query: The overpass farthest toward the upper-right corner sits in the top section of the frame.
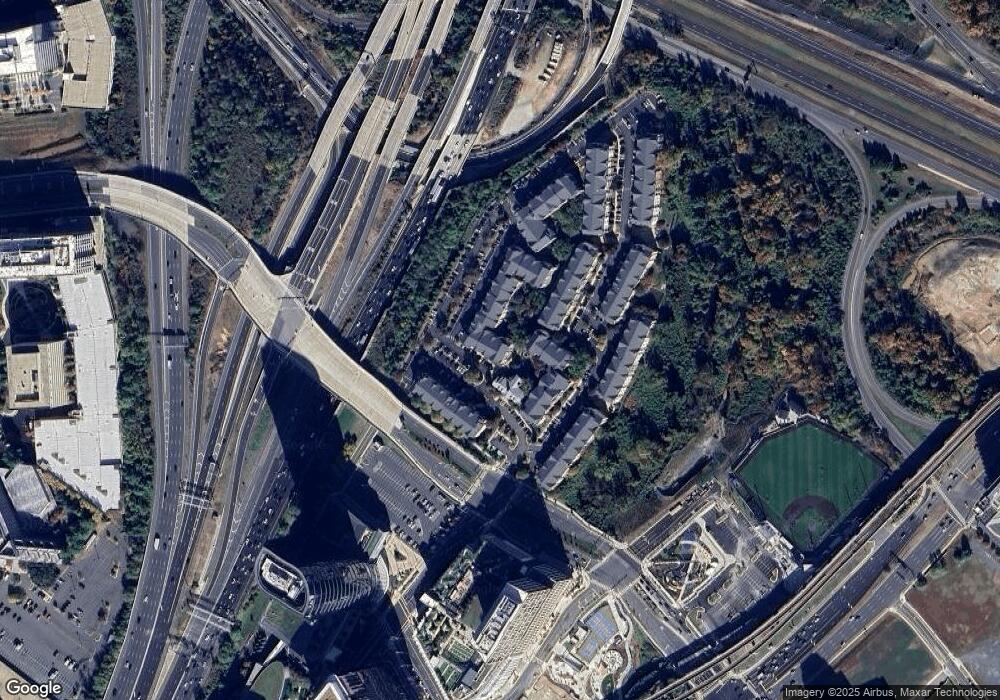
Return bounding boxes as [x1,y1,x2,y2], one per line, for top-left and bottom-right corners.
[542,0,636,134]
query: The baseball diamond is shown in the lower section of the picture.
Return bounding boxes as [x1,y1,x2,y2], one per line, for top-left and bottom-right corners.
[731,420,888,552]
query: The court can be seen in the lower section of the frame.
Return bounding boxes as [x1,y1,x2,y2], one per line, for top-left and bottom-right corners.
[574,603,618,663]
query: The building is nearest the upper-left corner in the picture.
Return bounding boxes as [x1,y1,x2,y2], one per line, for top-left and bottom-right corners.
[0,23,62,74]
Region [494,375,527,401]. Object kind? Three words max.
building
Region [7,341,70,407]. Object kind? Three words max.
building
